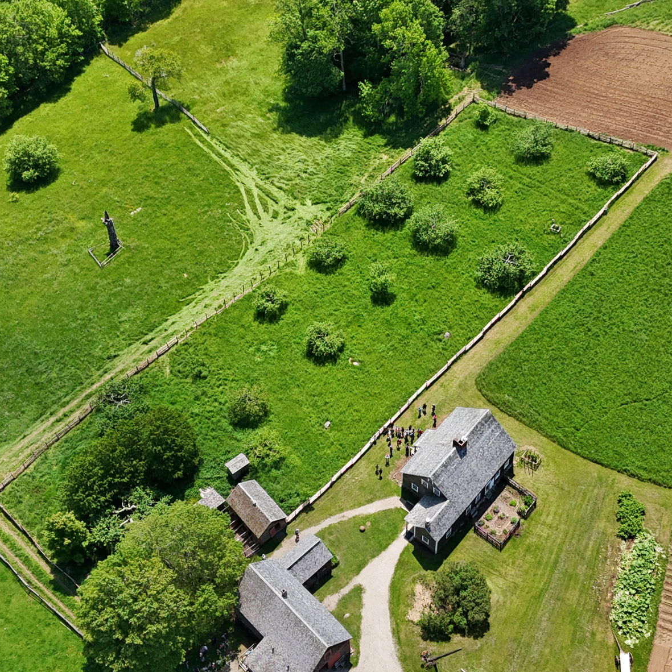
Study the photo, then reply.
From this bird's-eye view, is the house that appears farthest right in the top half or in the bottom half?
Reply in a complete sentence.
The house that appears farthest right is in the bottom half of the image.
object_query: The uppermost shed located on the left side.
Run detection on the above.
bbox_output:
[224,454,250,482]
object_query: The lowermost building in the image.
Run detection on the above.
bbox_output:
[232,534,353,672]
